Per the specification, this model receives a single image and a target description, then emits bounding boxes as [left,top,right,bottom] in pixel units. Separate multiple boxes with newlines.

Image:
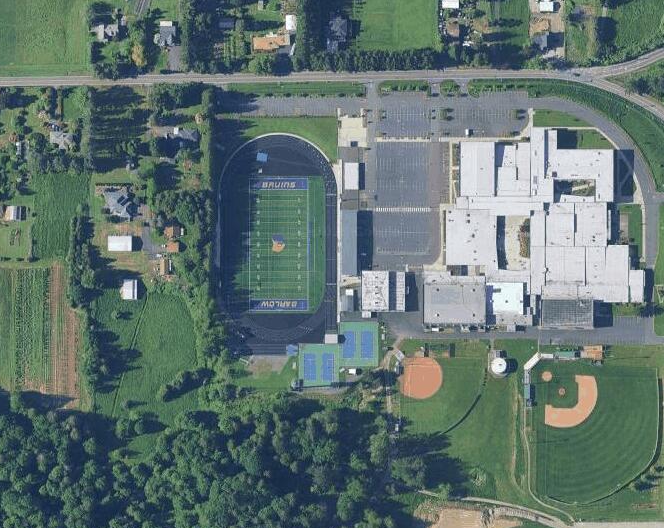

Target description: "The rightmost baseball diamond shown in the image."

[531,360,657,503]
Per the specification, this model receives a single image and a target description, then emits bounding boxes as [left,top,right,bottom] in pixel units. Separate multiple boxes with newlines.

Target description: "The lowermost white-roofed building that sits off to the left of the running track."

[121,279,137,300]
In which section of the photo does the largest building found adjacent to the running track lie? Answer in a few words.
right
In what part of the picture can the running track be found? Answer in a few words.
center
